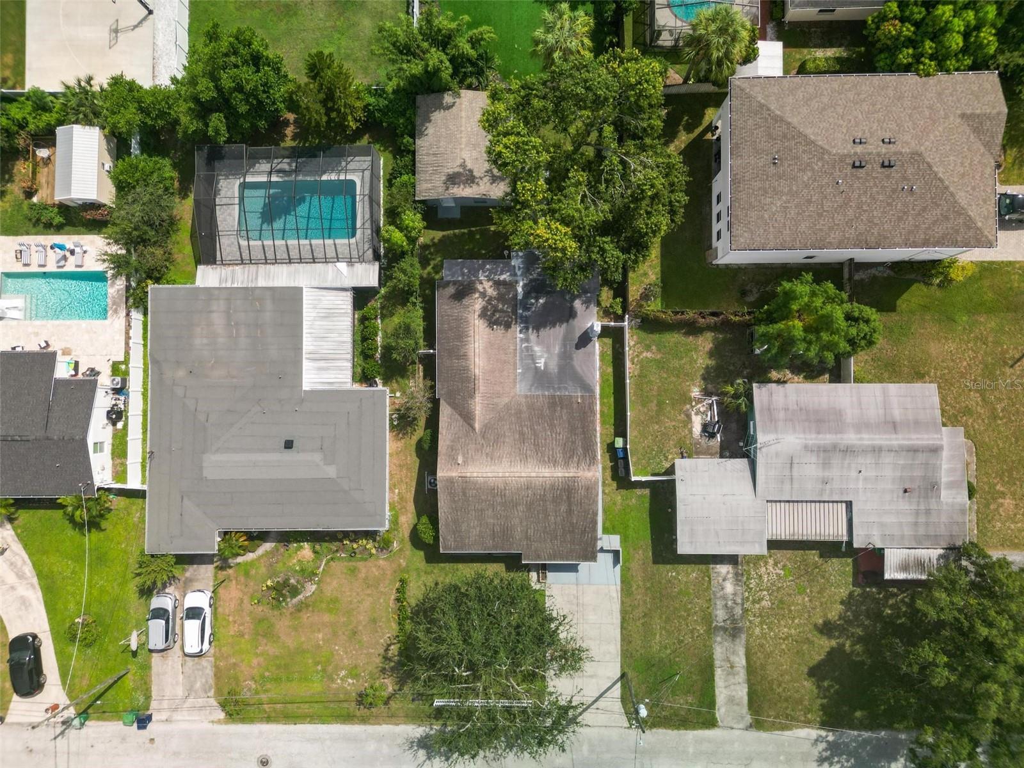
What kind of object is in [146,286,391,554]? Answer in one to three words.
house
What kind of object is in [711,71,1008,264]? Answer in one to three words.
house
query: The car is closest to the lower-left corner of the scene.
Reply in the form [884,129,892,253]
[1,631,43,698]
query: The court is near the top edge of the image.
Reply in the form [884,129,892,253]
[26,0,154,90]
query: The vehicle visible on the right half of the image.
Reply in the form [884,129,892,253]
[999,188,1024,218]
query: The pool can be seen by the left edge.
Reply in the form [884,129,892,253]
[0,267,111,324]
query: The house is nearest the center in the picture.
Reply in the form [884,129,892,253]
[436,250,600,563]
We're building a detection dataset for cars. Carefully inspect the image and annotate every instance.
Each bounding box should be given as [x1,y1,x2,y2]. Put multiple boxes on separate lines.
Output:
[179,589,212,654]
[1,631,43,698]
[142,593,176,653]
[999,188,1024,218]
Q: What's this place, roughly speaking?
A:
residential area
